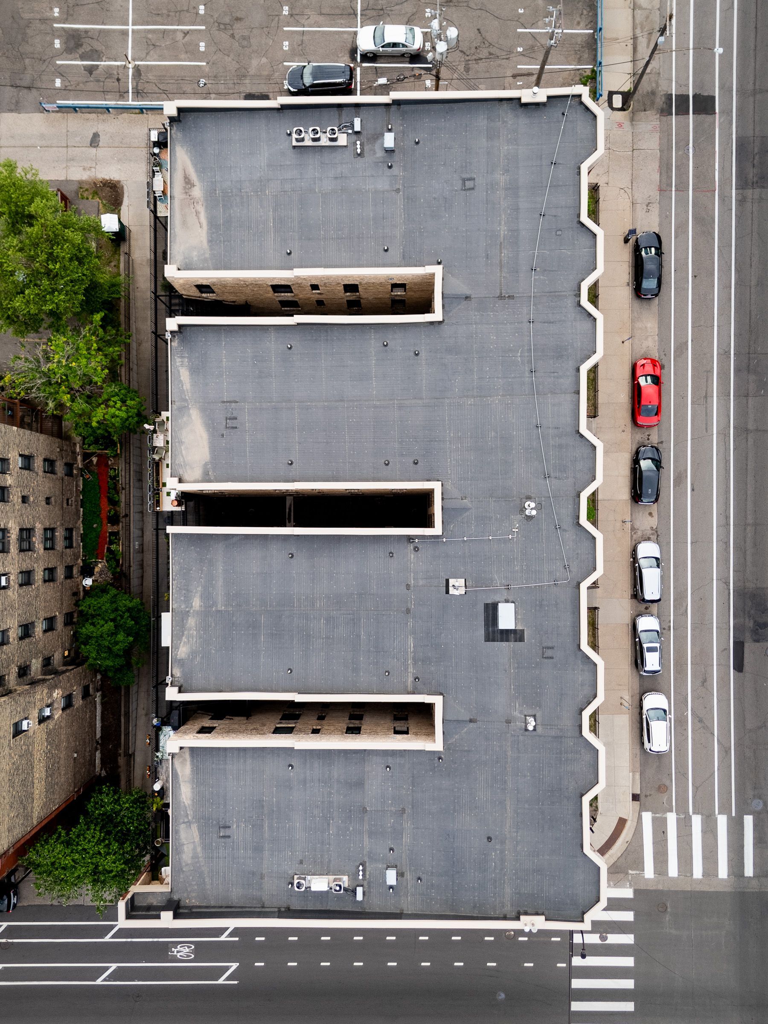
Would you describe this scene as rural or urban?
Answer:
urban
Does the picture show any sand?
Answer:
No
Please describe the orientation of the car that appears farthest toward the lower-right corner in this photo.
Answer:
from top to bottom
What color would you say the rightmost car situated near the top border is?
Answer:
white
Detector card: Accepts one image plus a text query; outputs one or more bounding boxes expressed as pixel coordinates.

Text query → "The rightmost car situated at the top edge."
[356,20,423,57]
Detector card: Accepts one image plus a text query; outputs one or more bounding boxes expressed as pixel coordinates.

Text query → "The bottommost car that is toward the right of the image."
[640,690,674,755]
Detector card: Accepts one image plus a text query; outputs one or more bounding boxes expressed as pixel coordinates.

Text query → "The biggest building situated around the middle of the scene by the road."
[118,80,607,937]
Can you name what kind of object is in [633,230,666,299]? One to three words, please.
car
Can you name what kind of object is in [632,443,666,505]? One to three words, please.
car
